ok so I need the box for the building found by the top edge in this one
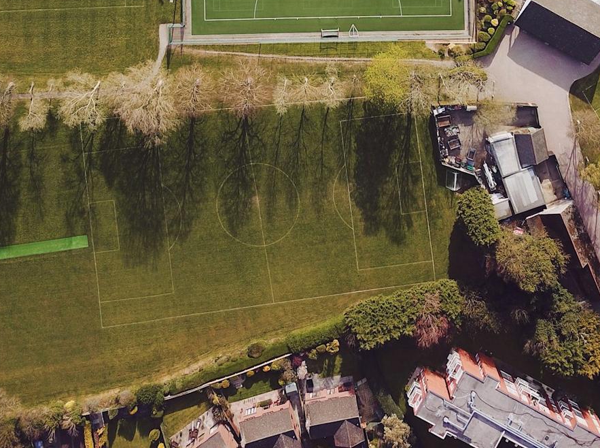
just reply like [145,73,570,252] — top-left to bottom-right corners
[513,0,600,63]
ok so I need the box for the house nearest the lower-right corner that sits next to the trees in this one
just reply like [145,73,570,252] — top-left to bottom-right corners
[412,352,600,448]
